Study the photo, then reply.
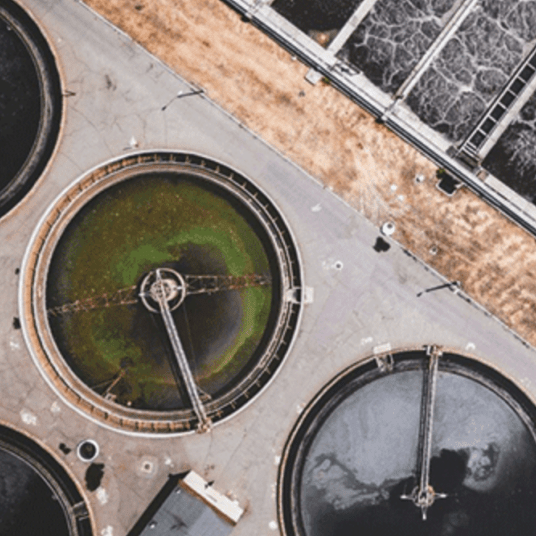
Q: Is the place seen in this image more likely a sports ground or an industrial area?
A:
industrial area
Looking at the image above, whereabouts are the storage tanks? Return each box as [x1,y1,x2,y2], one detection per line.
[277,345,536,536]
[0,0,63,224]
[18,151,312,437]
[0,424,96,536]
